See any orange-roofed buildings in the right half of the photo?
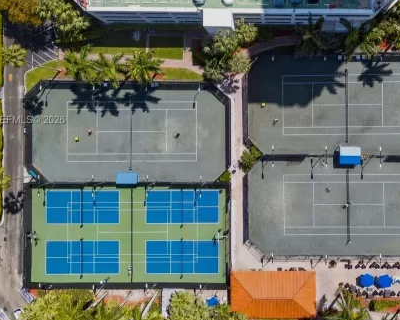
Yes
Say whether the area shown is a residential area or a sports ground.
sports ground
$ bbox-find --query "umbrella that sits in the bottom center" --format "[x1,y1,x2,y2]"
[205,294,219,308]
